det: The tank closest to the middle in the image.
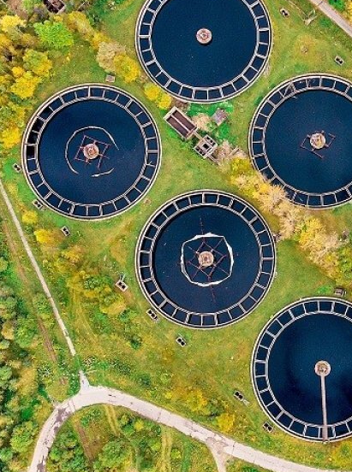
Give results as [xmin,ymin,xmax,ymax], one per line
[134,189,277,331]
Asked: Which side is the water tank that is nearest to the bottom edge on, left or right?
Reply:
right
